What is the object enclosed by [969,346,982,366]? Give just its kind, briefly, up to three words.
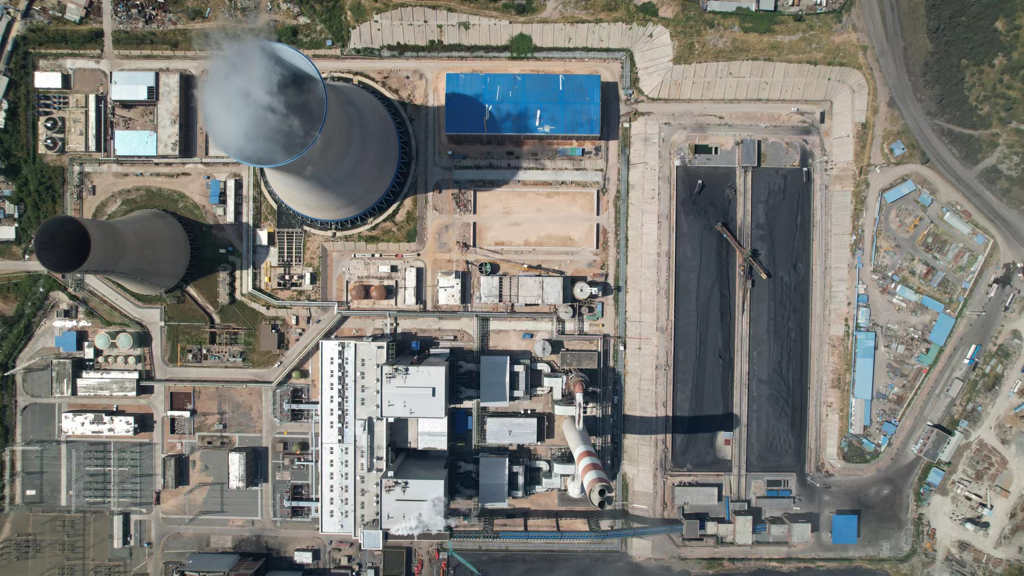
vehicle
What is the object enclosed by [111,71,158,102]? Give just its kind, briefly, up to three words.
building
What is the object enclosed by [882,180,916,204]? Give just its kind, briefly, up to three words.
shed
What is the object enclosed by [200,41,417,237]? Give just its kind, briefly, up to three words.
cooling tower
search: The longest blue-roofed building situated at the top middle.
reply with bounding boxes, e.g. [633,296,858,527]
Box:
[445,74,601,140]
